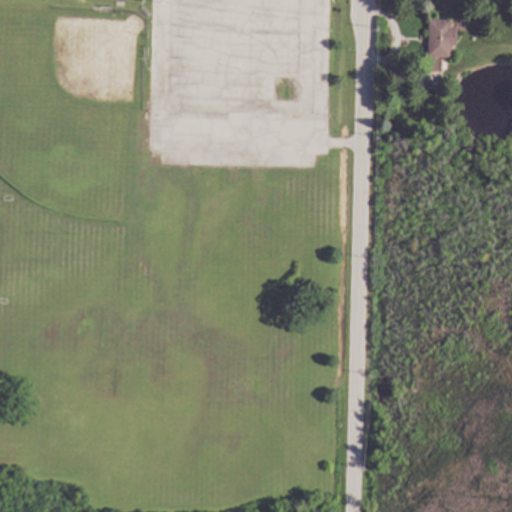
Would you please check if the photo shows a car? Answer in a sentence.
No, I find no car anywhere in the image.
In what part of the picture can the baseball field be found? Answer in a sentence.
The baseball field is in the top left part of the image.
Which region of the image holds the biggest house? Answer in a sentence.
You can find the biggest house in the top right area of the picture.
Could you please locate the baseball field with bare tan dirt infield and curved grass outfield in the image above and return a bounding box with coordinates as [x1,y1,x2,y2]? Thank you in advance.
[0,14,145,226]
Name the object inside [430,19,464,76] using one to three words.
house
